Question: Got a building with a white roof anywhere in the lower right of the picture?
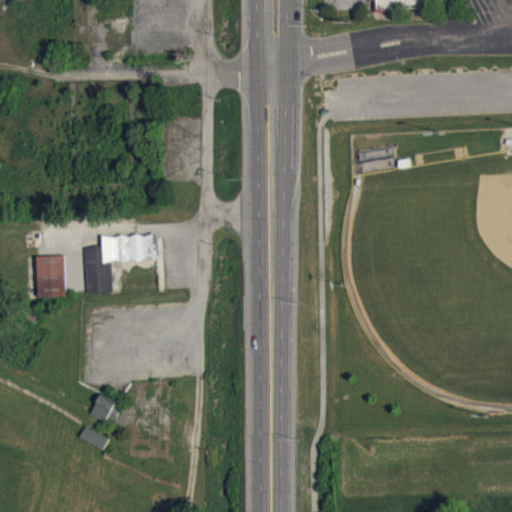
No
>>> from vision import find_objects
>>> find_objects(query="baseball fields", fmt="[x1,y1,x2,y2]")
[343,153,512,410]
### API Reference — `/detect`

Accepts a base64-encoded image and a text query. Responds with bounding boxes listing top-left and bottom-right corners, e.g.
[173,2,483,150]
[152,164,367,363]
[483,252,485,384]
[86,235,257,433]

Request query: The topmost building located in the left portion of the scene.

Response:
[103,234,156,264]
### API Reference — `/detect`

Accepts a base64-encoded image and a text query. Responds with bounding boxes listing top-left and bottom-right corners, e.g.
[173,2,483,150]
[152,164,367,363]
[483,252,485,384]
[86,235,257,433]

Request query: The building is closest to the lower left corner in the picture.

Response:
[80,426,112,451]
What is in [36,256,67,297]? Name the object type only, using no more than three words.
building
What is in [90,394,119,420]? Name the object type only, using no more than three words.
house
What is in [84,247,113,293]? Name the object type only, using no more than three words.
building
